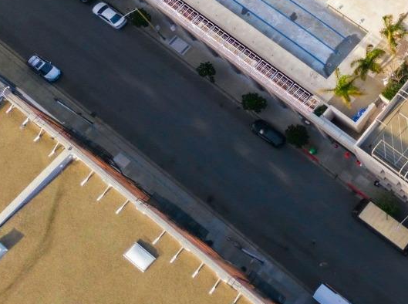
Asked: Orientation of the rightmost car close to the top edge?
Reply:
at an angle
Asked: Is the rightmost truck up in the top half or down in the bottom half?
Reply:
bottom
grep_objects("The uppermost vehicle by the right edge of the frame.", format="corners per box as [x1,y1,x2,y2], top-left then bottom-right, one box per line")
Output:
[347,197,408,257]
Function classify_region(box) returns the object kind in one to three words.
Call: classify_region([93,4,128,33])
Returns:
car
